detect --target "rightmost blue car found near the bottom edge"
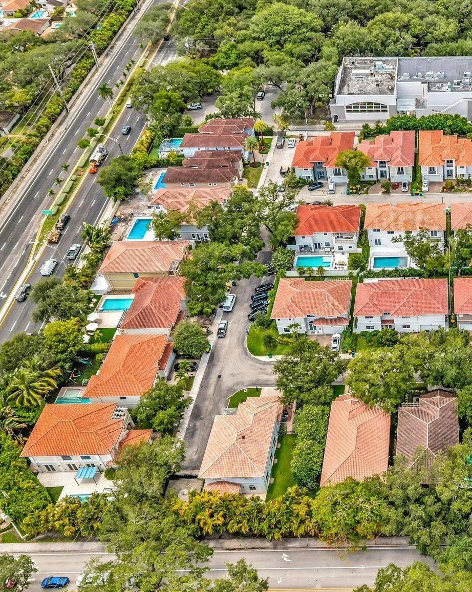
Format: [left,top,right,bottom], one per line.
[38,575,73,590]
